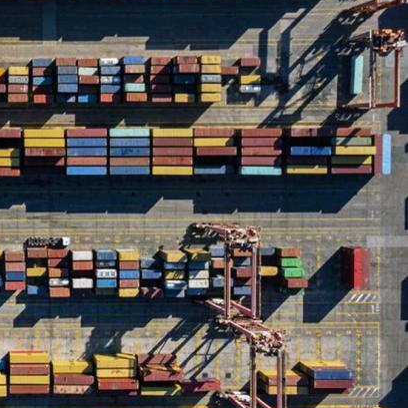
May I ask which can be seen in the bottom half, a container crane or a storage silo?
container crane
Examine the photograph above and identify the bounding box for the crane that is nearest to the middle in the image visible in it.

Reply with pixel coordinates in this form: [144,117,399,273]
[197,222,265,321]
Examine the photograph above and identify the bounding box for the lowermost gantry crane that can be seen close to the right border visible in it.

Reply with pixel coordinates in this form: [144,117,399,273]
[326,25,408,113]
